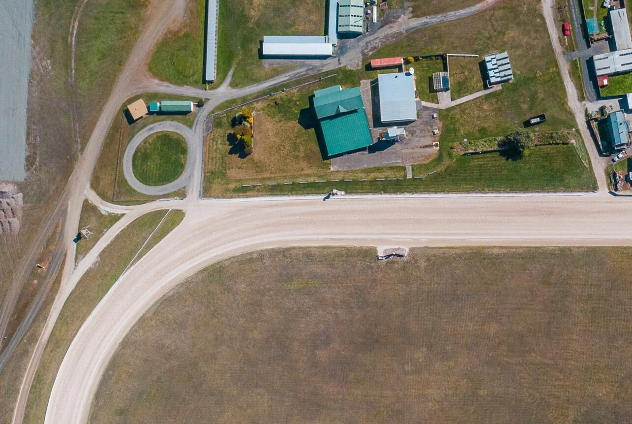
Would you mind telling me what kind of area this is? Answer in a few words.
sports ground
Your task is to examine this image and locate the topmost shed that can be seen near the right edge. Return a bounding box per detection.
[610,8,632,50]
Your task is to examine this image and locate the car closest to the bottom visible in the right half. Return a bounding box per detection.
[611,150,627,163]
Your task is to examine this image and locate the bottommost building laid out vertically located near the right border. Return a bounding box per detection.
[610,111,629,146]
